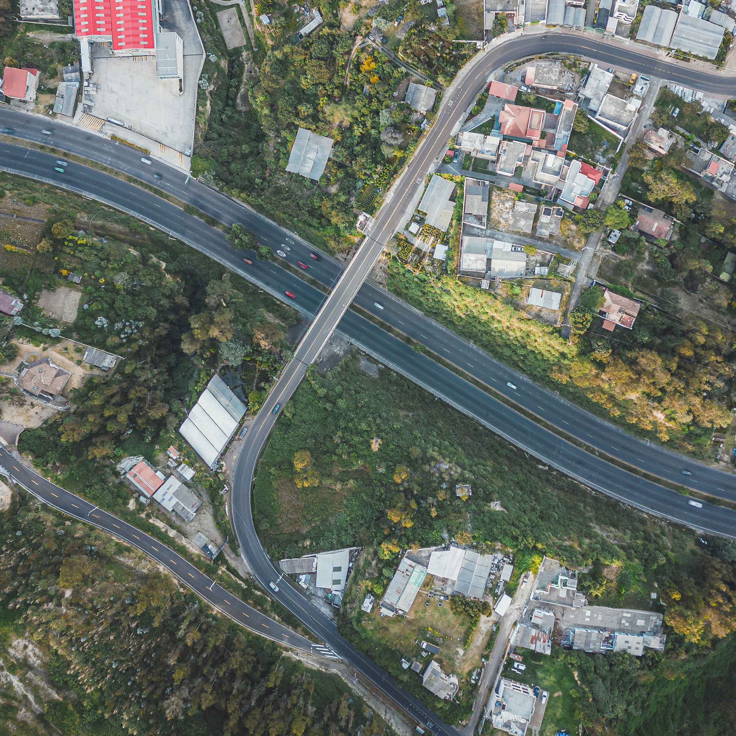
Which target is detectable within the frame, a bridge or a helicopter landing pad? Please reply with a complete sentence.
Visible in the photo is a bridge.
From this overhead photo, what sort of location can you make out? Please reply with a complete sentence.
This image shows a residential area.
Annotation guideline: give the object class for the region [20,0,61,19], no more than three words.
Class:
house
